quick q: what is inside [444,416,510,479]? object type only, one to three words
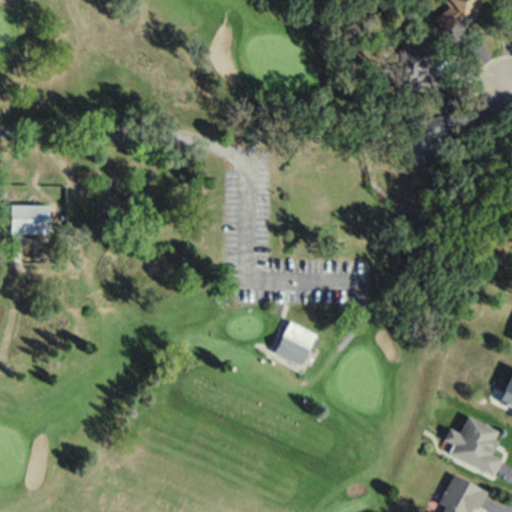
house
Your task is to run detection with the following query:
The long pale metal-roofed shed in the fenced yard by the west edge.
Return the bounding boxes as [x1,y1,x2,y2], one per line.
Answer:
[10,205,50,235]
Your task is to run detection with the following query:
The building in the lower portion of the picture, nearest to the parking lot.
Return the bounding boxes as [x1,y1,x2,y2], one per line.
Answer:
[274,320,320,367]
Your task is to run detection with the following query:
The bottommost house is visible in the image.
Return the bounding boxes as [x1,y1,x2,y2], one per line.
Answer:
[436,476,488,512]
